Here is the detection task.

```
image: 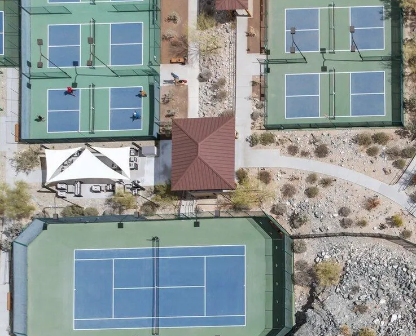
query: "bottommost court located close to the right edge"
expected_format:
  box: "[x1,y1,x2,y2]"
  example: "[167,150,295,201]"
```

[266,61,402,130]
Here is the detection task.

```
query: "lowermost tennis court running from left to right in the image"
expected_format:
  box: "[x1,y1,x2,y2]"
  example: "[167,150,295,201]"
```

[26,214,295,336]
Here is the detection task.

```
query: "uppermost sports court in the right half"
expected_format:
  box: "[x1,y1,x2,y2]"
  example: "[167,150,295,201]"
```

[267,0,401,62]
